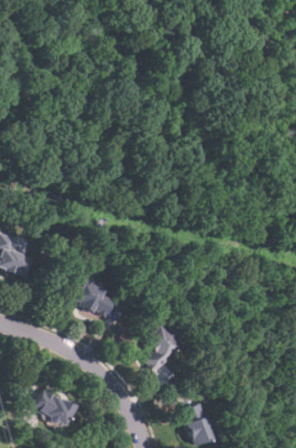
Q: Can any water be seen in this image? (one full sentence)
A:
No, the picture contains no water.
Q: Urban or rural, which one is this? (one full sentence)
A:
The area shown here is rural.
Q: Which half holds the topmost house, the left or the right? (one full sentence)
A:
You can find the topmost house on the left side of the picture.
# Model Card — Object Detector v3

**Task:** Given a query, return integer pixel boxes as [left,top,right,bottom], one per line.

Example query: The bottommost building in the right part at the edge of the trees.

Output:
[187,414,216,444]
